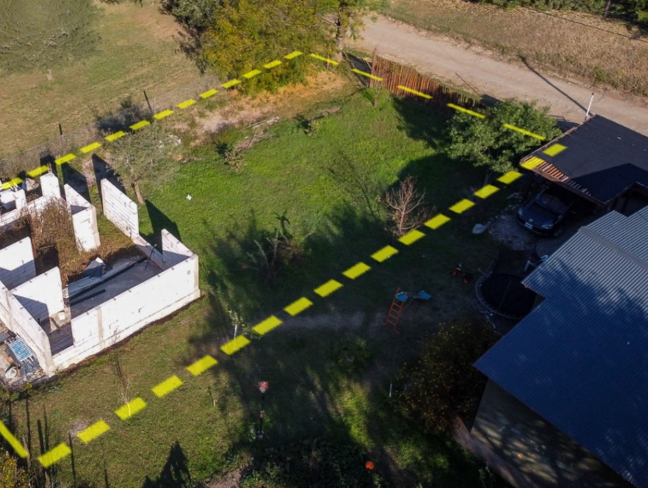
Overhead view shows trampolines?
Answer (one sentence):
Yes, there's a trampoline here.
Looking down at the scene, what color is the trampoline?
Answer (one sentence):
In this view, the trampoline is black.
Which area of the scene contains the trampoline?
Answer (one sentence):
The trampoline is in the right part of the image.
